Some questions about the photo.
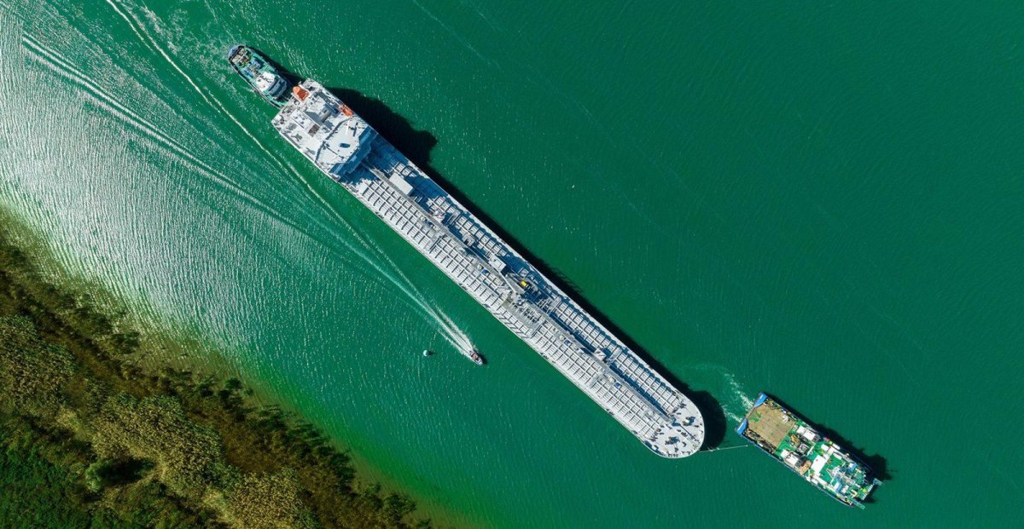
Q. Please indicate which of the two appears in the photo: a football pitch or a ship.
ship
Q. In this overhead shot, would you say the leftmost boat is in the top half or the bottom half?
top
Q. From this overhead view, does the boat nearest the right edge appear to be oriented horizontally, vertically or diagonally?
diagonally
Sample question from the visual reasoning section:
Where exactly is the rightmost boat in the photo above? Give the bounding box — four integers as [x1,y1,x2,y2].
[734,391,883,512]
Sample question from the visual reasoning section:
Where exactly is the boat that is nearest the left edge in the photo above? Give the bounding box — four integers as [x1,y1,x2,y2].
[227,43,295,107]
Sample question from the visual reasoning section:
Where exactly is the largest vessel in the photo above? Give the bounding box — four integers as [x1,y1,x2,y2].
[271,81,705,457]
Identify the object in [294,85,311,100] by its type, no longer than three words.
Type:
boat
